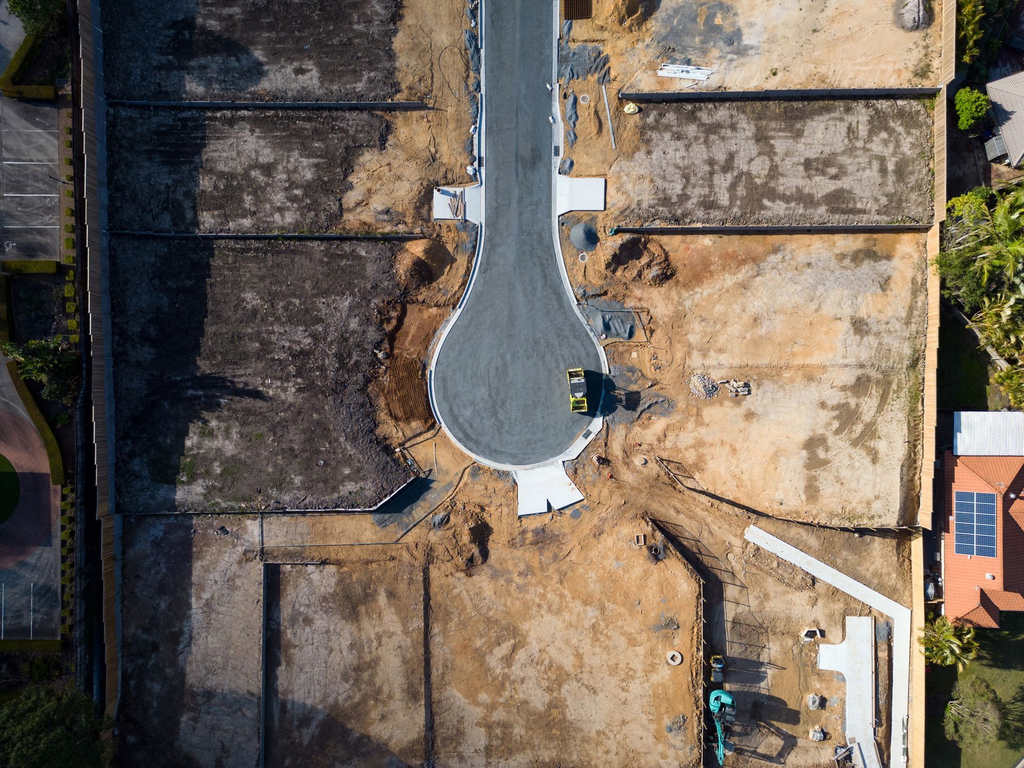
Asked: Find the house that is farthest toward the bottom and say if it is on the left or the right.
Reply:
right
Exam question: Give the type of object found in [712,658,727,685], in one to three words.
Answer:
work vehicle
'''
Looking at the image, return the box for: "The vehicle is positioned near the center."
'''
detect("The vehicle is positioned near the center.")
[568,368,590,415]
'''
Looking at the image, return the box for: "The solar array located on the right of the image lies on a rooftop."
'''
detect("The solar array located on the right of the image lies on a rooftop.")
[955,492,996,556]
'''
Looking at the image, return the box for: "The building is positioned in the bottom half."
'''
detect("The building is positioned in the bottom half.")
[933,411,1024,628]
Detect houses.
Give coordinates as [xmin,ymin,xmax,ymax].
[982,70,1024,169]
[933,411,1024,628]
